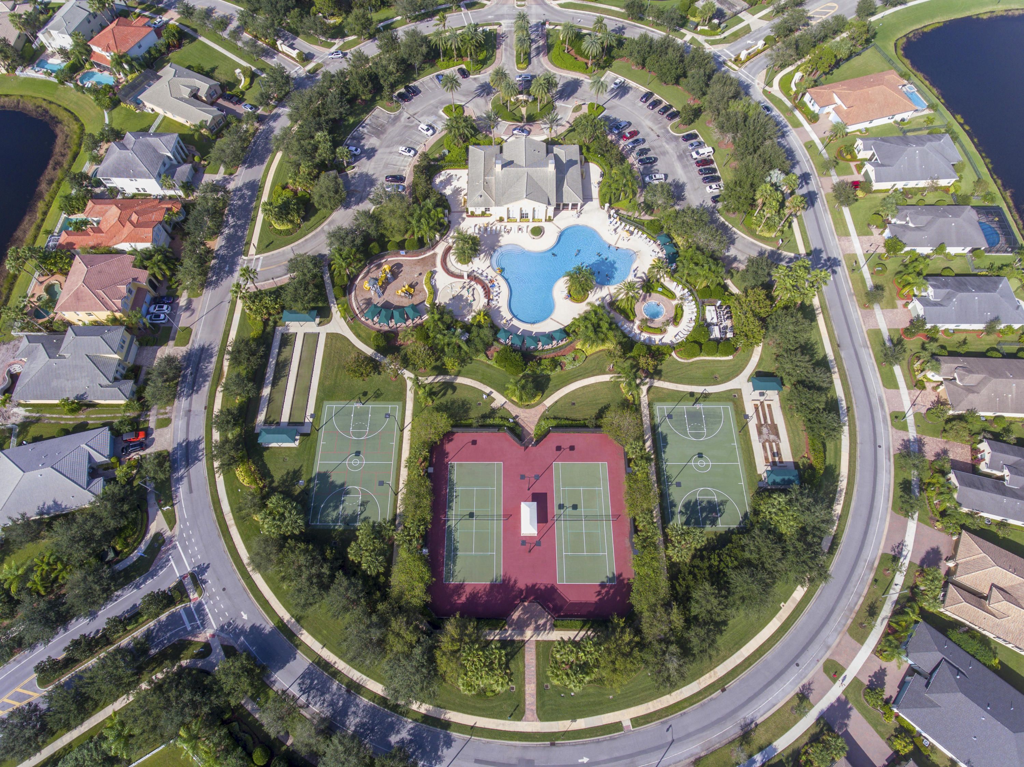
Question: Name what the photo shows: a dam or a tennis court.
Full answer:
Visible in the photo is a tennis court.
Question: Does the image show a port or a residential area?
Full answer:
It's a residential area.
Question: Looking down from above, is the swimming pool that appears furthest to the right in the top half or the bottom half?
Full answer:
Seen from above, the swimming pool that appears furthest to the right lies in the top half of the view.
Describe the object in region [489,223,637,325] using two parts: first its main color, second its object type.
blue swimming pool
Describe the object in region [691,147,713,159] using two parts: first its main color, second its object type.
white vehicle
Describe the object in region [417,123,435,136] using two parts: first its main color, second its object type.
white vehicle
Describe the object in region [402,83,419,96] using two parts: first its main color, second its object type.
black vehicle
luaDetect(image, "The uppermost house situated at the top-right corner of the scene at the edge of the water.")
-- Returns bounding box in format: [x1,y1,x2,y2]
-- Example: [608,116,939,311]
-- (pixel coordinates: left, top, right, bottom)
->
[802,70,924,133]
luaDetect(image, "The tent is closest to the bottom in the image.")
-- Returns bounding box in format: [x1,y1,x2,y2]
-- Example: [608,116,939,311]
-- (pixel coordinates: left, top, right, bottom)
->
[521,502,537,536]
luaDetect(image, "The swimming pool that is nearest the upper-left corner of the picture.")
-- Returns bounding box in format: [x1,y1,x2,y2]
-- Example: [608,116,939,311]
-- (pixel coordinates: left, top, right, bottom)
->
[35,58,64,71]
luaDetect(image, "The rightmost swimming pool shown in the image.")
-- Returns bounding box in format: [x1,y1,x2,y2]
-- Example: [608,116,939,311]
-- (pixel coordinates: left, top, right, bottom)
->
[978,220,1001,246]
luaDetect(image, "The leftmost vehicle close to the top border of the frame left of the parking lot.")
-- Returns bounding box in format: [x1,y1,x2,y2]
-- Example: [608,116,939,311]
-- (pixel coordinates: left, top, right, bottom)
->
[151,13,167,28]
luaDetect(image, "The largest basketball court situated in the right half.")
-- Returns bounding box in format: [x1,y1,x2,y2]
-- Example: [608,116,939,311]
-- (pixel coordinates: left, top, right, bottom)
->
[653,402,755,531]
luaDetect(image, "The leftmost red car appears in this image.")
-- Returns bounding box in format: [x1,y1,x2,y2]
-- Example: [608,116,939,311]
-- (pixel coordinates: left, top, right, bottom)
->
[125,431,146,443]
